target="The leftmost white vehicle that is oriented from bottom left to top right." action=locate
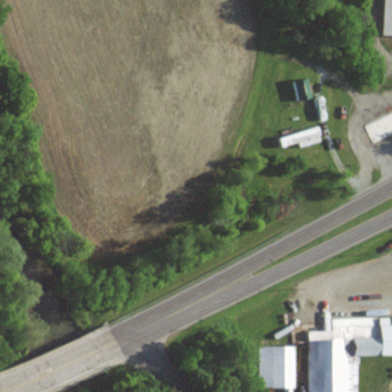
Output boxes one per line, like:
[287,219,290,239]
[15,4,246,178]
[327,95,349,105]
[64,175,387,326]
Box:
[274,321,300,339]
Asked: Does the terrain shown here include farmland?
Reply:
Yes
